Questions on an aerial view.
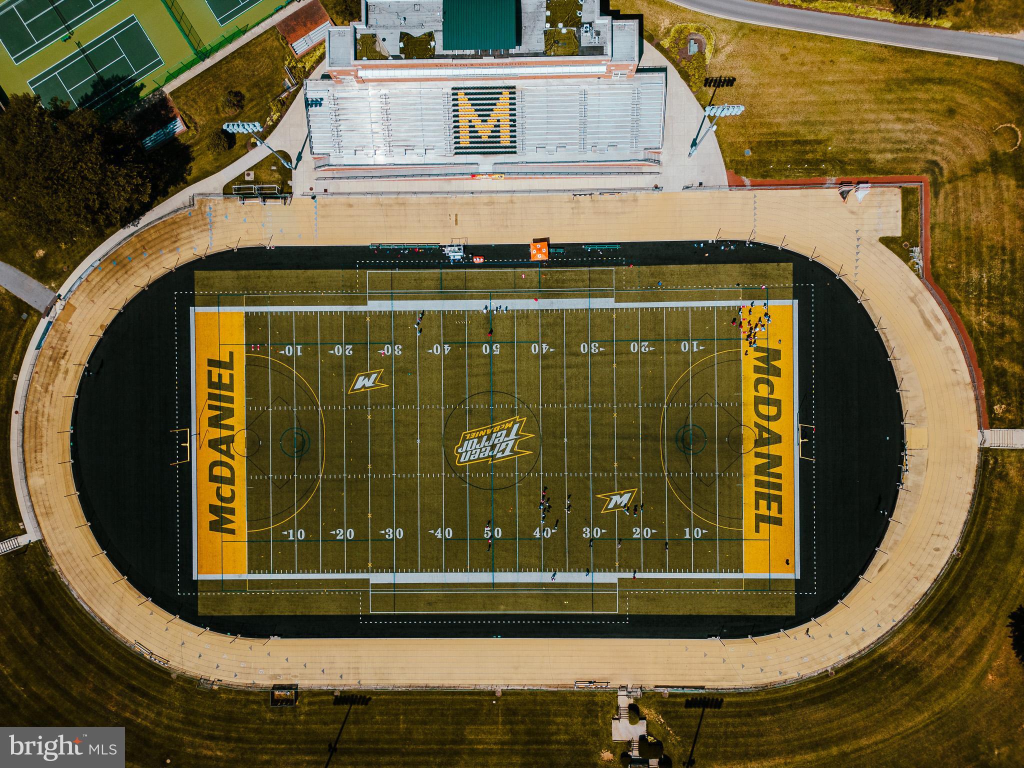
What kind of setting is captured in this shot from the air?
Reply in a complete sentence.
This looks like a sports ground.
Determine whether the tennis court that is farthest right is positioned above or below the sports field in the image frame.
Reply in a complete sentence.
The position of the tennis court that is farthest right is above the sports field.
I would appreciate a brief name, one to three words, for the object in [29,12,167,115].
tennis court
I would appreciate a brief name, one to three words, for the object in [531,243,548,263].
tent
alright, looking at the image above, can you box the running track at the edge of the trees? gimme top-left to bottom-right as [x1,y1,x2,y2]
[22,188,978,686]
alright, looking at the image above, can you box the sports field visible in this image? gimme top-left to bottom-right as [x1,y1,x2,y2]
[72,241,902,637]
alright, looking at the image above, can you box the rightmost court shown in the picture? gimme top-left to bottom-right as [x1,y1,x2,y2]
[205,0,263,27]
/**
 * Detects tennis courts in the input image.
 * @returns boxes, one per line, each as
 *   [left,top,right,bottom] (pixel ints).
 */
[205,0,263,27]
[0,0,119,65]
[29,12,167,115]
